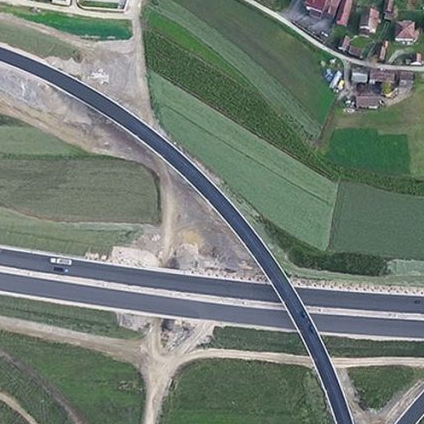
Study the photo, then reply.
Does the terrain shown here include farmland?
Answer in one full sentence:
Yes, farmland can be seen from above here.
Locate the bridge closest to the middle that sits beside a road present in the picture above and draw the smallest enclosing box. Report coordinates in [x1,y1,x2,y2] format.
[110,107,355,424]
